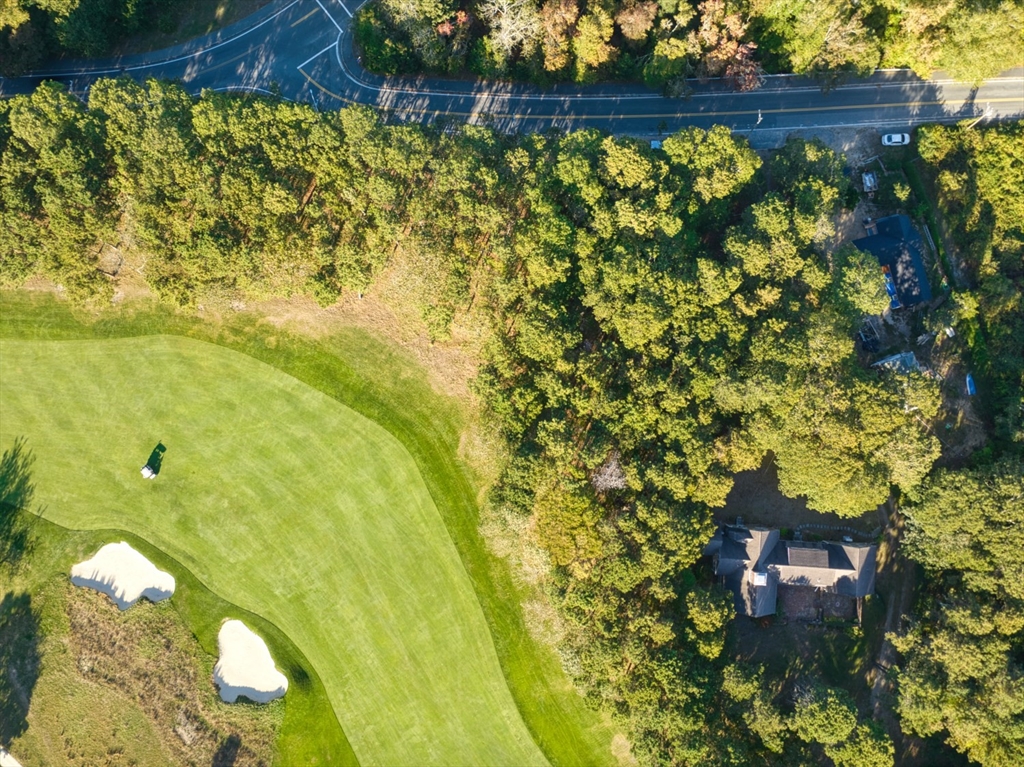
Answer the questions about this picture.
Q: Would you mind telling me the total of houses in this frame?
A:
two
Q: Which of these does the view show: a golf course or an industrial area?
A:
golf course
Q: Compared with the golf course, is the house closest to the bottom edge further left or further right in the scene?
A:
to the right of it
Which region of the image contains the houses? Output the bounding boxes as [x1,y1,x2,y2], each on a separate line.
[704,525,876,617]
[847,215,932,306]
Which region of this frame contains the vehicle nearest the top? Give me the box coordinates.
[881,132,911,146]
